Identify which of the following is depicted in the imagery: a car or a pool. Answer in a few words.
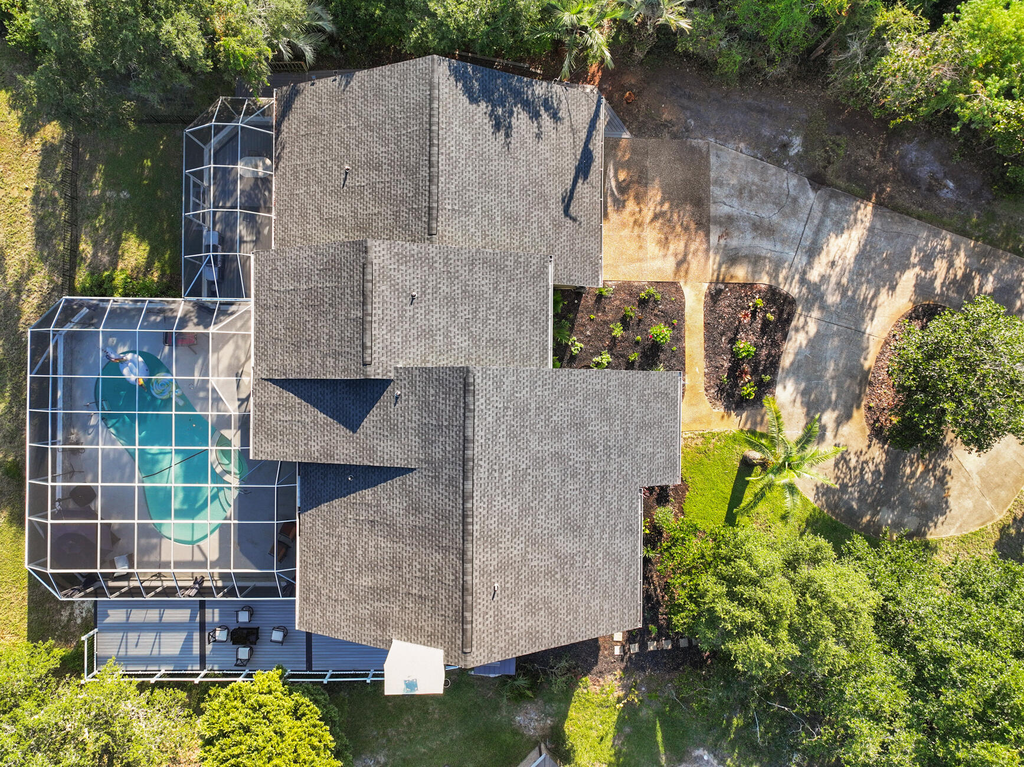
pool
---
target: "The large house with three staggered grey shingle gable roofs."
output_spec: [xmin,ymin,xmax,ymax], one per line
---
[249,54,684,696]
